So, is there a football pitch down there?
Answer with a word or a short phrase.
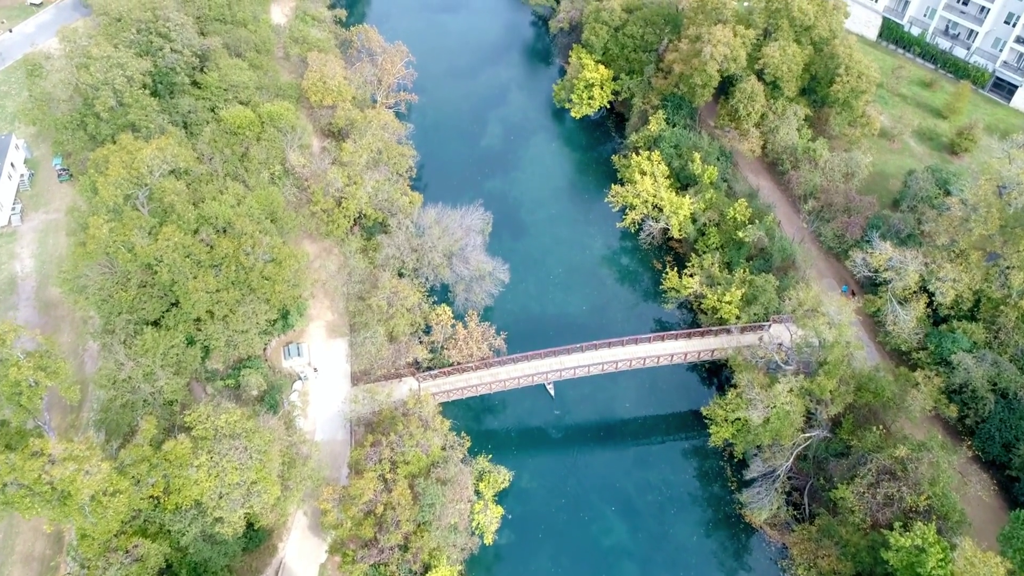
No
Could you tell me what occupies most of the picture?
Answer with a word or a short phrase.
trees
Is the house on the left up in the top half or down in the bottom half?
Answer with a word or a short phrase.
top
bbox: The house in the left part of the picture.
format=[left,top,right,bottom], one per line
[0,124,43,226]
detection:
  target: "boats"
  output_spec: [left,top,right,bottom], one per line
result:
[543,383,555,399]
